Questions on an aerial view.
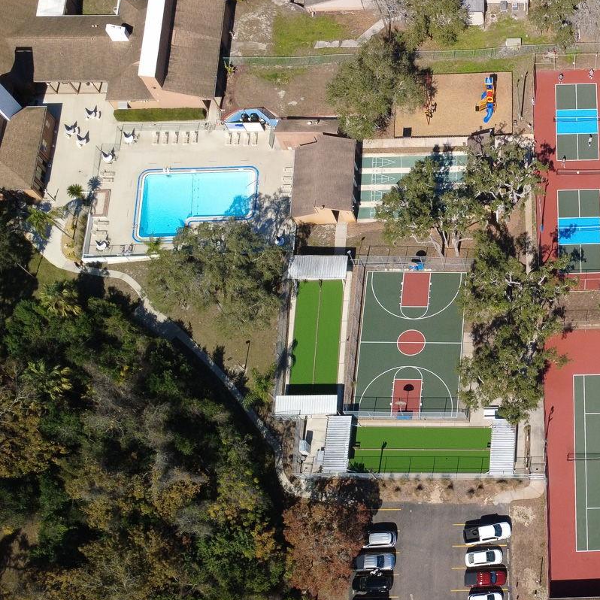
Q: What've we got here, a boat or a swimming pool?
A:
swimming pool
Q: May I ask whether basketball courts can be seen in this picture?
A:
Yes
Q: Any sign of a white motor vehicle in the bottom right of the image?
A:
Yes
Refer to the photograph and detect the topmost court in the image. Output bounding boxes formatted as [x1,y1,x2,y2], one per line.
[555,83,600,161]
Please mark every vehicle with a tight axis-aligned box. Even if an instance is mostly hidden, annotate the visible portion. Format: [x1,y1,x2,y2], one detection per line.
[351,553,395,571]
[467,590,503,600]
[465,548,502,566]
[361,530,396,548]
[351,574,393,592]
[462,522,512,545]
[463,568,505,588]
